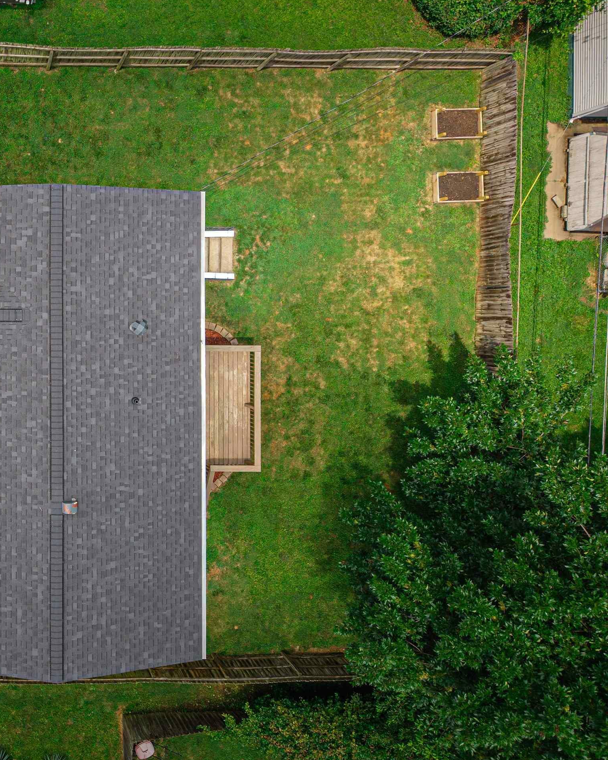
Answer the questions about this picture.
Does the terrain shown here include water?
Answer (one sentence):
No, there's no water in this view.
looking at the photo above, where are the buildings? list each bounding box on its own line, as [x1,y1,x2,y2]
[552,134,608,230]
[557,0,608,127]
[0,184,206,681]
